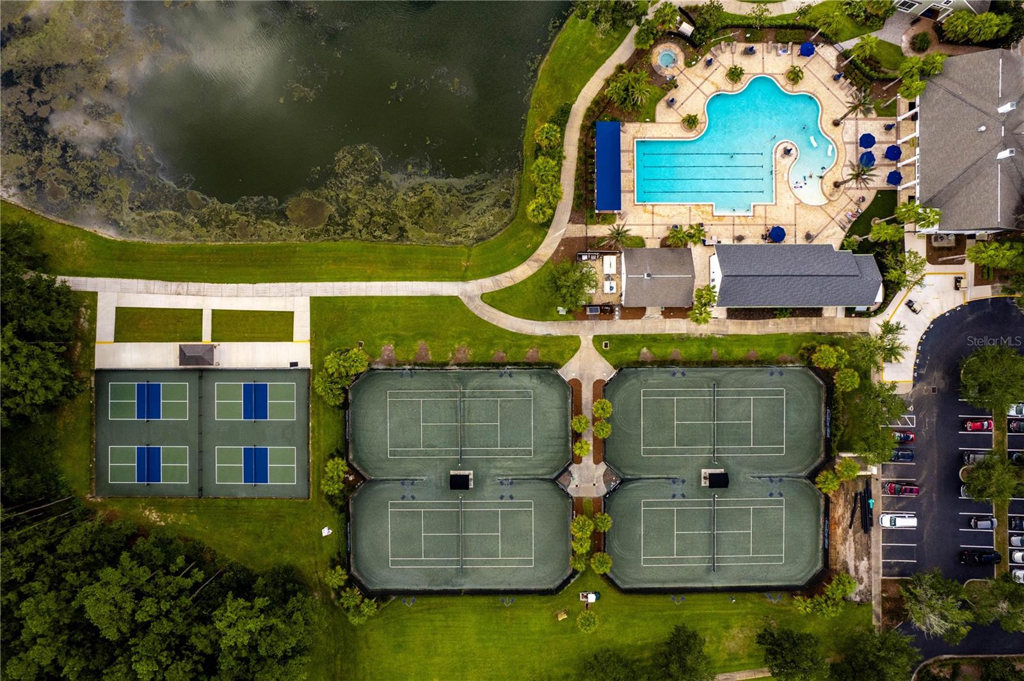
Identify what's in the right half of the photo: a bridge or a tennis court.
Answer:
tennis court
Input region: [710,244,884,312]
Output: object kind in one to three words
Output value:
building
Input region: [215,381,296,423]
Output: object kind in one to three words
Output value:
sports court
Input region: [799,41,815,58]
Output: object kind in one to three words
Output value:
umbrella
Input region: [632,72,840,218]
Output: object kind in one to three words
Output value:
swimming pool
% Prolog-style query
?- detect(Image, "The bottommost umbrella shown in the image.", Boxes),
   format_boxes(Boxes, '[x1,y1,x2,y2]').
[768,226,785,242]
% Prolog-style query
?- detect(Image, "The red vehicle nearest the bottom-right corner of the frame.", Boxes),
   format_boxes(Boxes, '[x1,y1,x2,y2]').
[887,483,924,498]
